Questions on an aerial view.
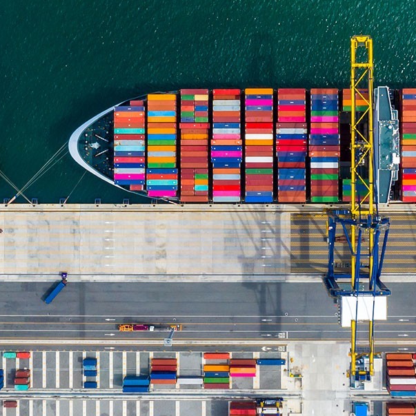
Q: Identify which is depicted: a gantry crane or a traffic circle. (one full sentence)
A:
This aerial view contains a gantry crane.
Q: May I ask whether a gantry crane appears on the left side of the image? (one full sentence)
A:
No, no gantry crane can be made out on the left side of the image.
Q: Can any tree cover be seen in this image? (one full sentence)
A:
No, there's no tree cover in this view.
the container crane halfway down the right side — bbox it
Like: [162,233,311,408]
[322,32,390,380]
